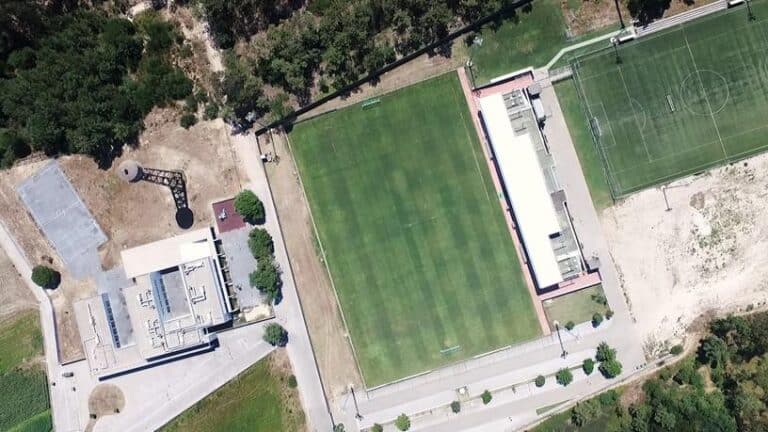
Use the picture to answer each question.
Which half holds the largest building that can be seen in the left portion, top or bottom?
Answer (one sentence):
You can find the largest building that can be seen in the left portion in the bottom half.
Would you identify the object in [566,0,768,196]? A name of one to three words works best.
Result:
soccer field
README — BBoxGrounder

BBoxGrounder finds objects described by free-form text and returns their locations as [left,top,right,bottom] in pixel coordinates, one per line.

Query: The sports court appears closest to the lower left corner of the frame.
[16,160,108,280]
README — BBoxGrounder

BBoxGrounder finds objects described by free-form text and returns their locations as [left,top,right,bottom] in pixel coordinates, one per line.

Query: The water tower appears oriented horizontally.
[119,161,188,190]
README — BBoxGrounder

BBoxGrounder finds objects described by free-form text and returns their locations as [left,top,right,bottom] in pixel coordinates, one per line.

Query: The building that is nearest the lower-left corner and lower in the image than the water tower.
[73,226,242,377]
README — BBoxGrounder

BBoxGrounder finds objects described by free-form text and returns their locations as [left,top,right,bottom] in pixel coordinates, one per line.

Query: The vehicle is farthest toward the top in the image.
[535,99,547,116]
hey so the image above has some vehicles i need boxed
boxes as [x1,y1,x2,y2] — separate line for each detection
[62,372,73,377]
[535,99,547,116]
